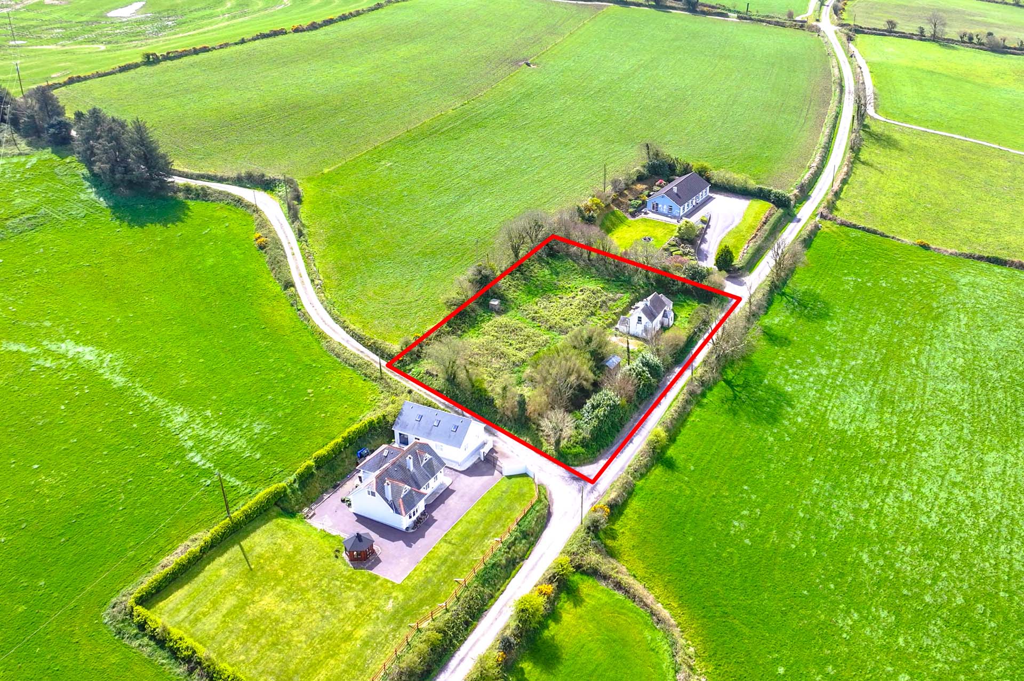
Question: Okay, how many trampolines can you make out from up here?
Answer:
0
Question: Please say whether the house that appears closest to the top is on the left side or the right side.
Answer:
right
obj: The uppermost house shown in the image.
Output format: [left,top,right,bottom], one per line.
[648,173,709,218]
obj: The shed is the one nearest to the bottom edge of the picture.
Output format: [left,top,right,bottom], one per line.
[343,531,375,561]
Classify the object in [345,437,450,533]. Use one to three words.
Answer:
house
